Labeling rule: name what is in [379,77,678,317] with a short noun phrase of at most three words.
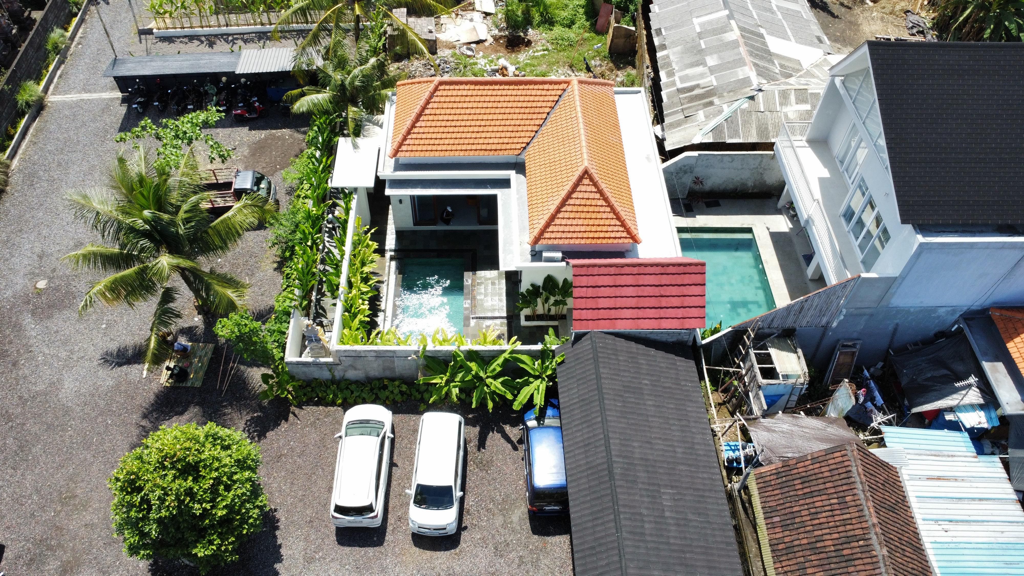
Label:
house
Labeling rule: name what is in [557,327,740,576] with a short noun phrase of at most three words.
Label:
building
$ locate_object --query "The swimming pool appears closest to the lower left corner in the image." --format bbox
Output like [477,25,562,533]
[386,254,477,346]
